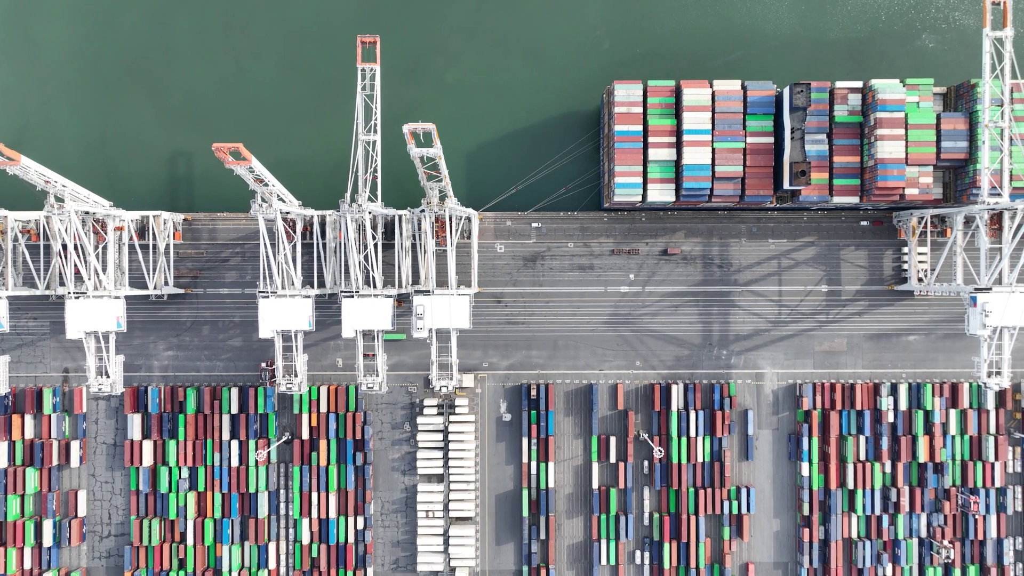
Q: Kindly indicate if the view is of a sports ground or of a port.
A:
port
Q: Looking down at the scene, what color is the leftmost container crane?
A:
white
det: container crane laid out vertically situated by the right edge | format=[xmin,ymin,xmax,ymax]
[884,0,1024,390]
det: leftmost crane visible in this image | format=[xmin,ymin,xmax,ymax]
[0,200,84,391]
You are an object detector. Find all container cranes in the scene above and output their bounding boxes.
[0,139,186,390]
[0,200,84,391]
[884,0,1024,390]
[336,33,419,389]
[210,136,349,389]
[406,120,484,388]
